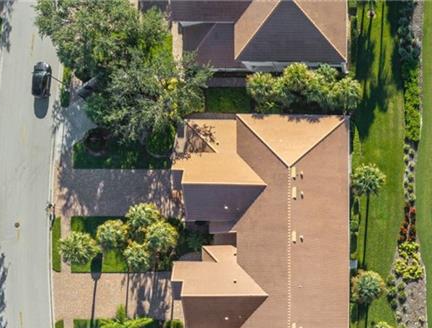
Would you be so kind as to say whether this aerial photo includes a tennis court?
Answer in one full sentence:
No, there isn't any tennis court down there.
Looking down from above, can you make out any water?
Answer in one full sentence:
No, there's no water in this view.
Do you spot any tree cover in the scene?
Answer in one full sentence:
Yes, some tree cover is visible.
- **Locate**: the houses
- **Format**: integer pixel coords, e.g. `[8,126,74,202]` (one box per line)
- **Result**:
[172,114,350,328]
[167,0,348,75]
